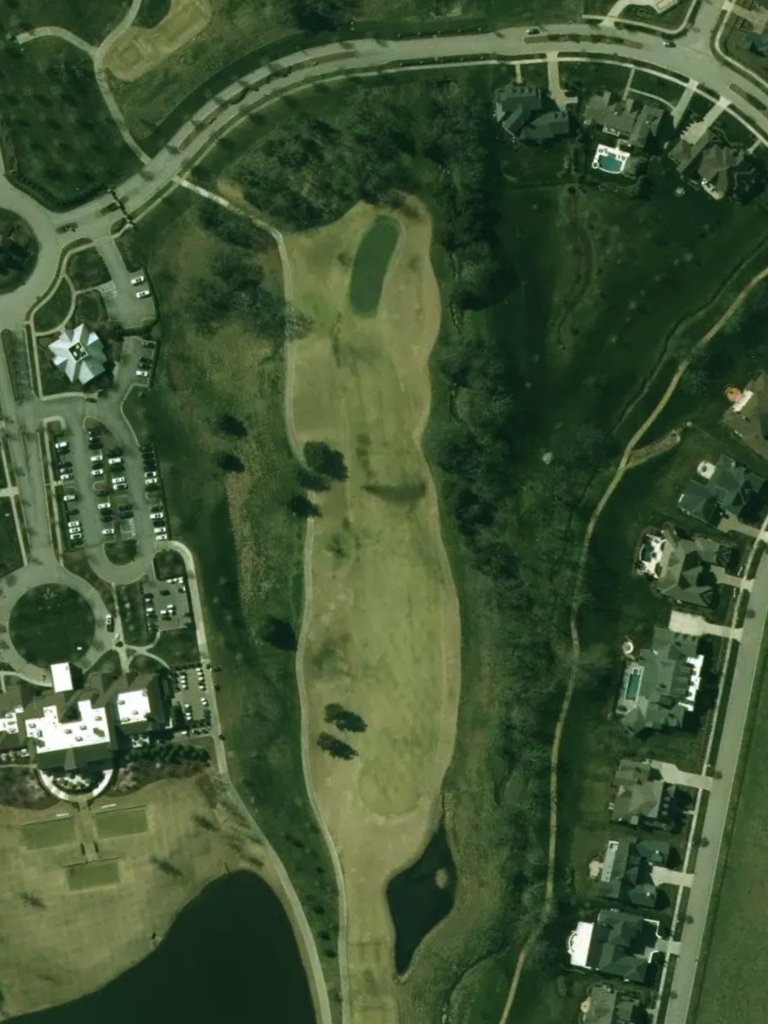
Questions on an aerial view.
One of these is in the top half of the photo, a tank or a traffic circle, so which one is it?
traffic circle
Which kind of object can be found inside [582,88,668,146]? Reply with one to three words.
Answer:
house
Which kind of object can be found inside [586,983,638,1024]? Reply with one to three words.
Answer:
house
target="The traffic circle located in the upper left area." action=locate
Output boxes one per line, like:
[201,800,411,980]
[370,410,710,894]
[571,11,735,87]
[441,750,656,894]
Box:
[0,147,62,328]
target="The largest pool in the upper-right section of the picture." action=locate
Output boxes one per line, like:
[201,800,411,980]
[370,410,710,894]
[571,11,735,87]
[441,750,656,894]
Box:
[597,154,624,173]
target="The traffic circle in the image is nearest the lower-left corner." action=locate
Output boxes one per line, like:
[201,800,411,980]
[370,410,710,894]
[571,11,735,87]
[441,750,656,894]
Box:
[0,562,113,690]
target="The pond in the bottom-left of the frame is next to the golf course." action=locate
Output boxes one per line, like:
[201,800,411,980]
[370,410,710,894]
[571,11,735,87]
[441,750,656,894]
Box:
[2,871,312,1024]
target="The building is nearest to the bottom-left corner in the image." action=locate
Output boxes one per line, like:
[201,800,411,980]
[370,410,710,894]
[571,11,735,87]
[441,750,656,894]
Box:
[0,663,170,770]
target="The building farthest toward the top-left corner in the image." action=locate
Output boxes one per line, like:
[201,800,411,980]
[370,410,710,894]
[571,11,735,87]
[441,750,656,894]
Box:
[48,322,107,384]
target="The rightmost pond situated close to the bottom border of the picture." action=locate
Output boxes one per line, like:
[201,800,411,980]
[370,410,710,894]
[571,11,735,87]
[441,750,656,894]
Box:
[389,825,456,973]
